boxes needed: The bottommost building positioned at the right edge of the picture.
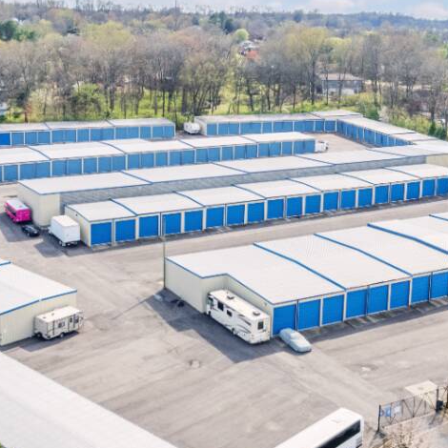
[403,381,437,408]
